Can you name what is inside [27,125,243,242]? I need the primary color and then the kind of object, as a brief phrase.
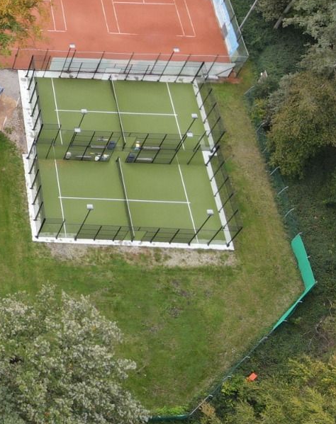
green sports court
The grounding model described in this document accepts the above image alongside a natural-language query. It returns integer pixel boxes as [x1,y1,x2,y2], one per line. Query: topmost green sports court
[27,43,225,149]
